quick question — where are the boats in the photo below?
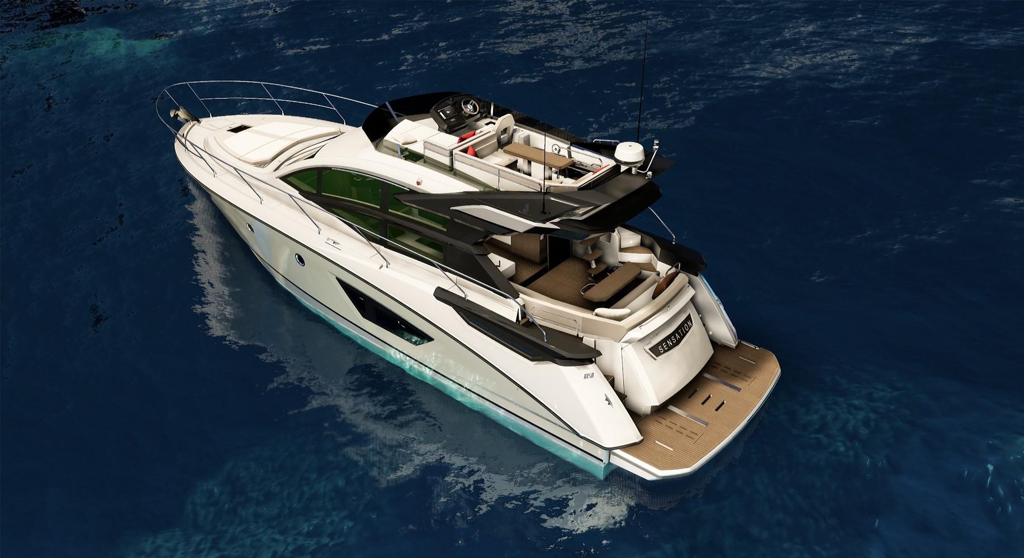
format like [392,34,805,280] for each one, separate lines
[156,20,787,488]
